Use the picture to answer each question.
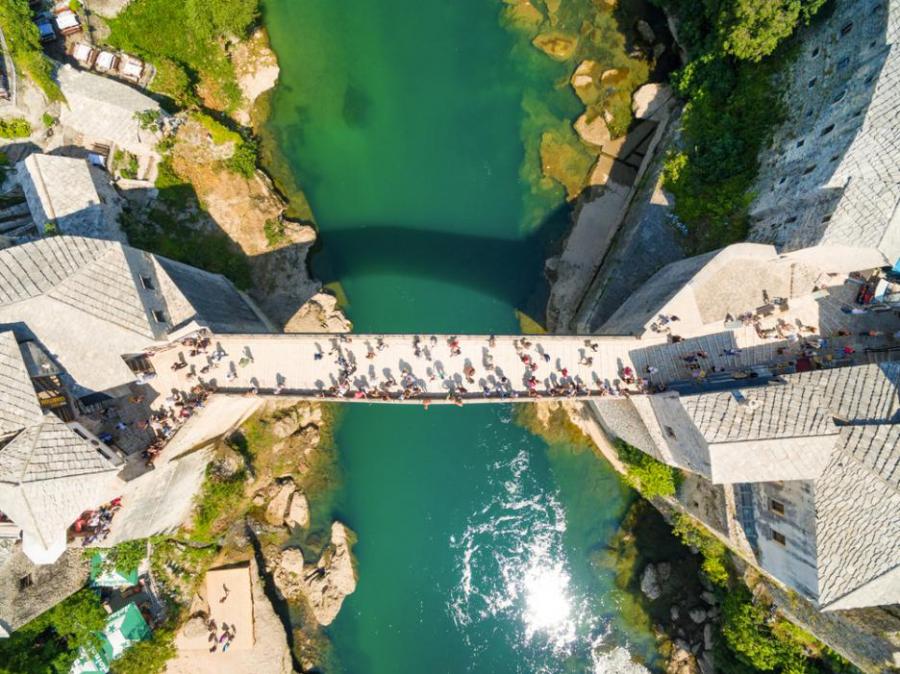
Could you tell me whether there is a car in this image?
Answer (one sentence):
No, there's no car here.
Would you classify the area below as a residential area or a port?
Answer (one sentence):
This looks like a residential area.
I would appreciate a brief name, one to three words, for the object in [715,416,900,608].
house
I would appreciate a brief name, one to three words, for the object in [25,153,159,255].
house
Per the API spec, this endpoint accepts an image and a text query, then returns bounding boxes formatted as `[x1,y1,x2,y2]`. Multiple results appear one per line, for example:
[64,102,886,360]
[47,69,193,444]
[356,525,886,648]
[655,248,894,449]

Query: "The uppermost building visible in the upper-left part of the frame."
[57,66,175,149]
